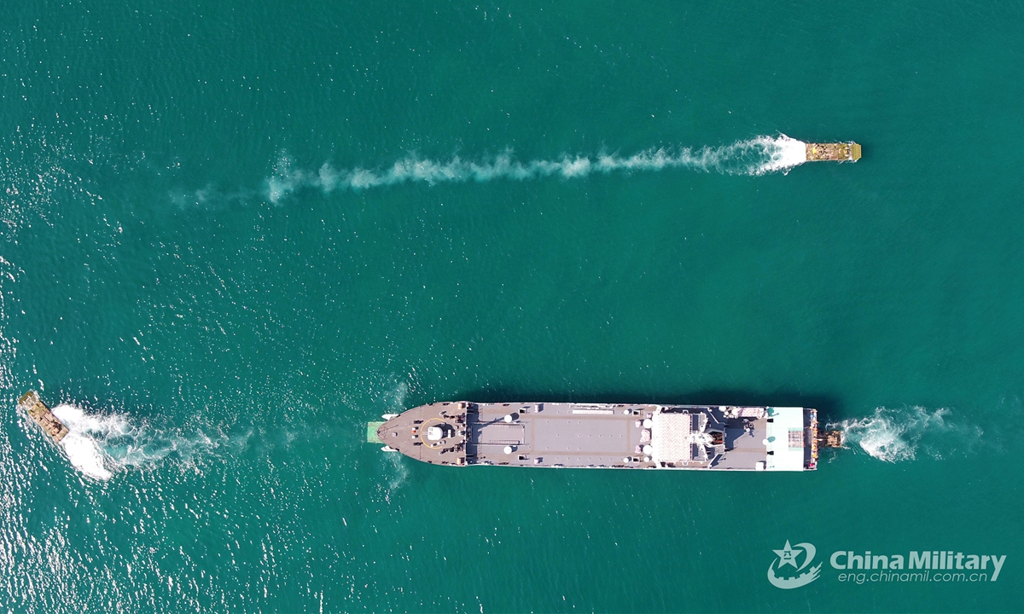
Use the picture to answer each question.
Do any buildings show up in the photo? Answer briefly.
No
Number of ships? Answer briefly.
1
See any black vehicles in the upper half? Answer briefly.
No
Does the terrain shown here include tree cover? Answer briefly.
No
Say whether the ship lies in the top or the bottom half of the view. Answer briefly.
bottom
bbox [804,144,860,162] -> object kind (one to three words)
vehicle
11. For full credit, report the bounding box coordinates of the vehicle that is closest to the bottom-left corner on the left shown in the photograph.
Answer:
[20,392,69,441]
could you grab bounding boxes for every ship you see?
[367,401,828,471]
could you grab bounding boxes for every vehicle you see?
[821,429,842,447]
[20,392,69,441]
[804,144,860,162]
